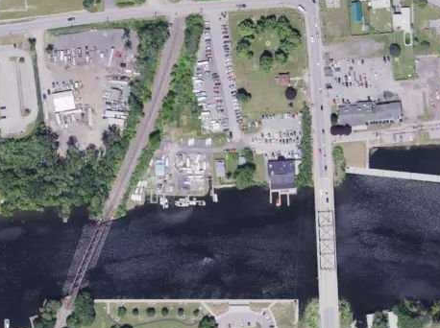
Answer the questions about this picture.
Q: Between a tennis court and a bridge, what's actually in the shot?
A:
bridge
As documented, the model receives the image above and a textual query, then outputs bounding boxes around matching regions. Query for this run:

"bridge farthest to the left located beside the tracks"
[66,217,109,300]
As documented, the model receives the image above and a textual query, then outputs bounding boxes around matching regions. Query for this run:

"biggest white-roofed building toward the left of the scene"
[53,89,82,115]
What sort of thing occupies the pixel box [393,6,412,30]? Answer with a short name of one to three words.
building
